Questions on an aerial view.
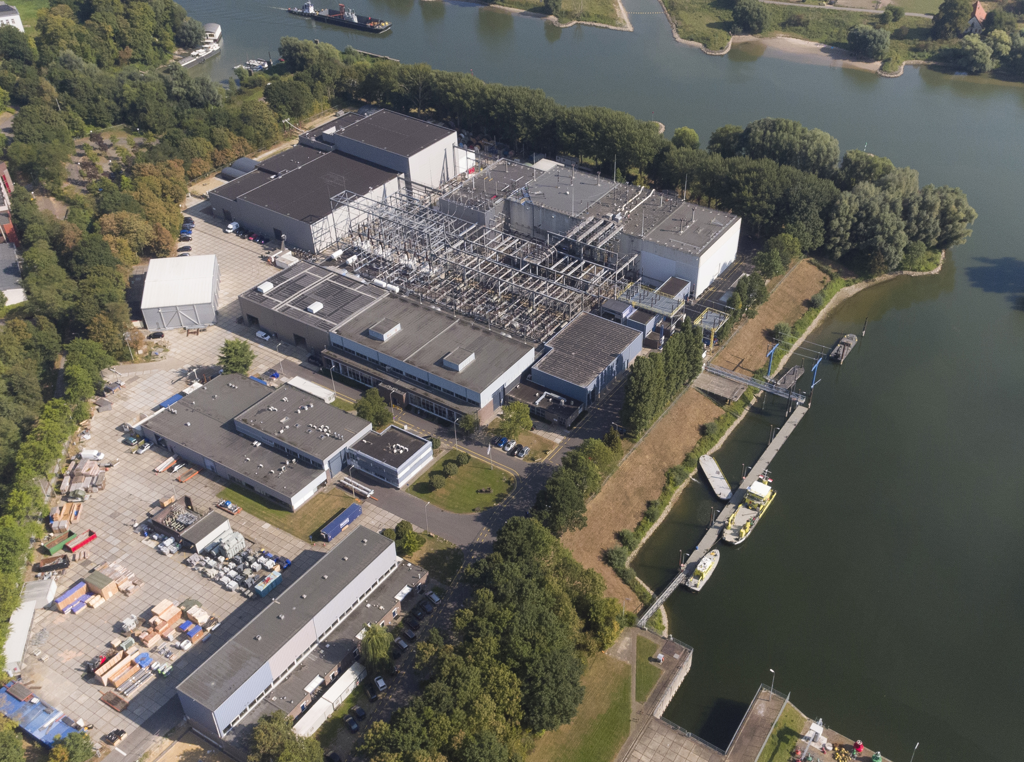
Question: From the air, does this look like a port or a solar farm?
port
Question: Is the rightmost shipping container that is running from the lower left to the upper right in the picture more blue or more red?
blue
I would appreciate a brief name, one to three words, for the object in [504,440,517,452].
vehicle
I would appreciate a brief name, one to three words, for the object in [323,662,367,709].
building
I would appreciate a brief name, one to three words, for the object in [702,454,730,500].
ship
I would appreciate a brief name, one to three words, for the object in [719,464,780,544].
vessel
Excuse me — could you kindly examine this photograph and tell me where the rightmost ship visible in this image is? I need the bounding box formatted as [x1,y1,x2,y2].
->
[828,333,858,363]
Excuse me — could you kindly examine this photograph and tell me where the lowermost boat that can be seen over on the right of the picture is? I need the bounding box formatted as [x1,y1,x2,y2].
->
[684,549,719,596]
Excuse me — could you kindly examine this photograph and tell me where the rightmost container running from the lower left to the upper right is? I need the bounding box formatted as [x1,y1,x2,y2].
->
[321,504,363,543]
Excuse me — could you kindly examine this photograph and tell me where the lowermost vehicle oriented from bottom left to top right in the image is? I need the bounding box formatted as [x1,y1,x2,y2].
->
[90,658,105,677]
